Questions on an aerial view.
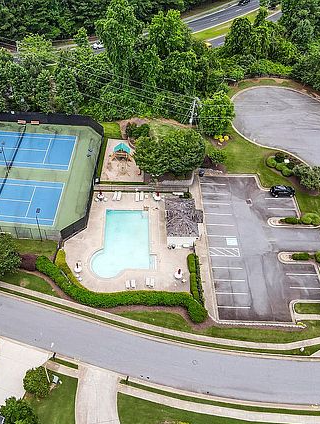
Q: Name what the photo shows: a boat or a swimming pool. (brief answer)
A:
swimming pool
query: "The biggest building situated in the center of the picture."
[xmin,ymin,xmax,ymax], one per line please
[163,199,203,246]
